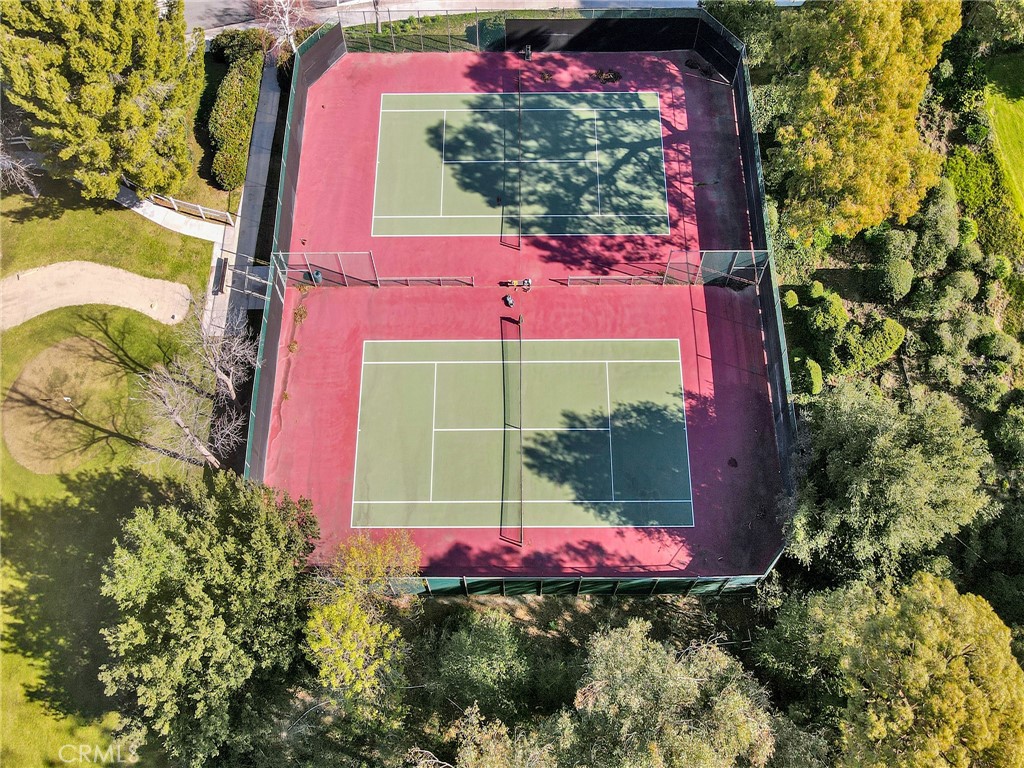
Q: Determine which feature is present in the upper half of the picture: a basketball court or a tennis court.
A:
tennis court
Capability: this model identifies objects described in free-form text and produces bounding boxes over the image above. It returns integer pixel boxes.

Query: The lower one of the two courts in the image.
[262,284,786,579]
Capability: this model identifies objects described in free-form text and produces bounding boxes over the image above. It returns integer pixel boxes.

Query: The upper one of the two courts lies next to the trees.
[287,50,756,287]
